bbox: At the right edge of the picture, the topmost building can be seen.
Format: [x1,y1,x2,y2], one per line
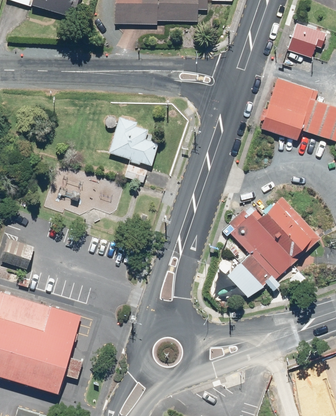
[288,22,326,57]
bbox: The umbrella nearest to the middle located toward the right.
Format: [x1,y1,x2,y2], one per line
[218,259,232,272]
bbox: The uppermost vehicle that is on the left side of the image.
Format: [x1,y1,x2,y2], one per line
[94,18,106,33]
